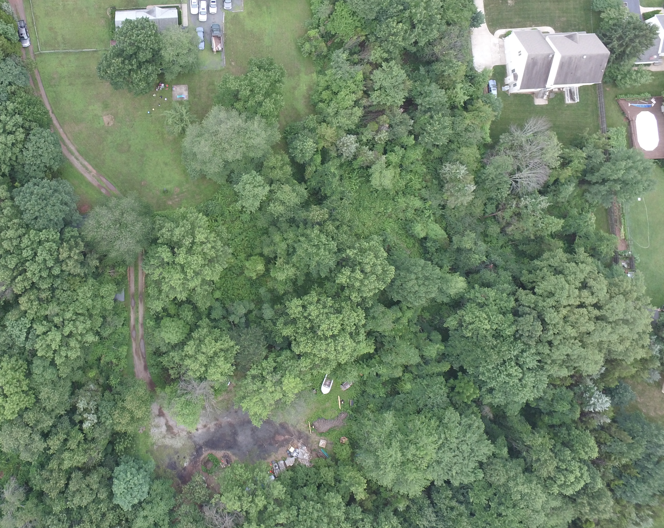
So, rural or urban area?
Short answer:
rural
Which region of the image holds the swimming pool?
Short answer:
top right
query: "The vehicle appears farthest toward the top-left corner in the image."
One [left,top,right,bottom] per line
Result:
[17,20,30,46]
